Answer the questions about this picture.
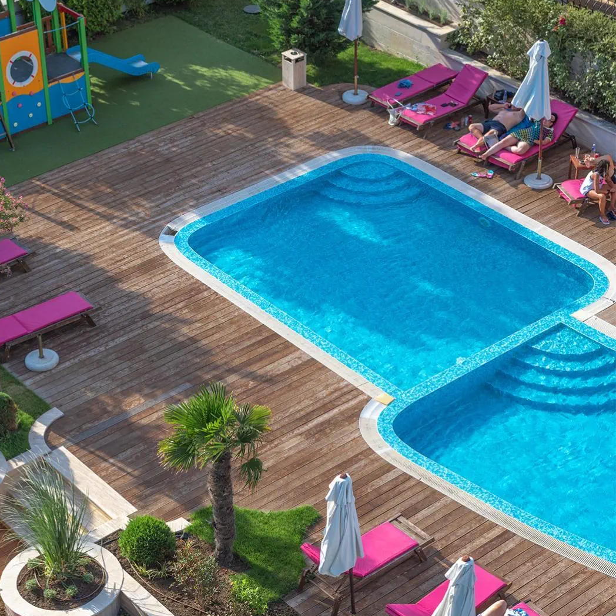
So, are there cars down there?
No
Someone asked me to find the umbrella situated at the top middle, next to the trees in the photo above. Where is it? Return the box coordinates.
[339,0,368,102]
